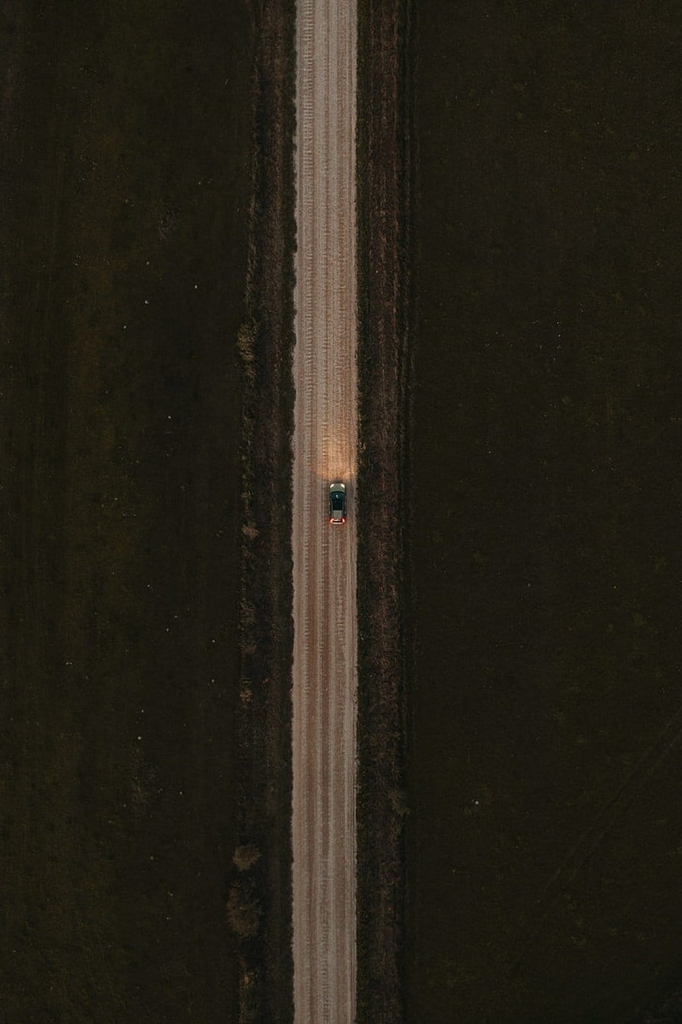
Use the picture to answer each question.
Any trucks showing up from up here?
No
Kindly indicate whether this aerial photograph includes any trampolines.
No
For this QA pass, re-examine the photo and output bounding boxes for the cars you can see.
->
[328,483,347,525]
